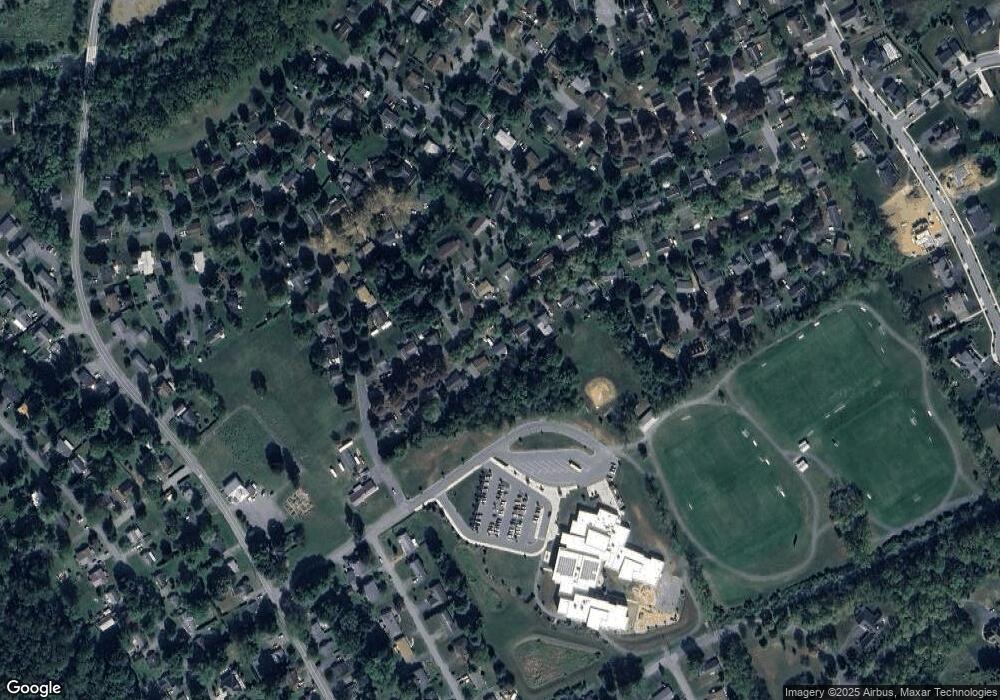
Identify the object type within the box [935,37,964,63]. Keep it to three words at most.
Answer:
house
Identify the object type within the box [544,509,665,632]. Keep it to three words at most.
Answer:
building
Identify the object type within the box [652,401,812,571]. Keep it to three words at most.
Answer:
soccer field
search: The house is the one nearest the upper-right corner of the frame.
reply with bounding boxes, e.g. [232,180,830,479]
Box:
[965,8,994,34]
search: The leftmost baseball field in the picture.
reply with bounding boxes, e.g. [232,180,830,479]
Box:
[586,377,616,413]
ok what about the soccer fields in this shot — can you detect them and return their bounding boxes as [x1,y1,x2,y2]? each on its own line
[806,387,952,520]
[728,308,921,447]
[652,401,812,571]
